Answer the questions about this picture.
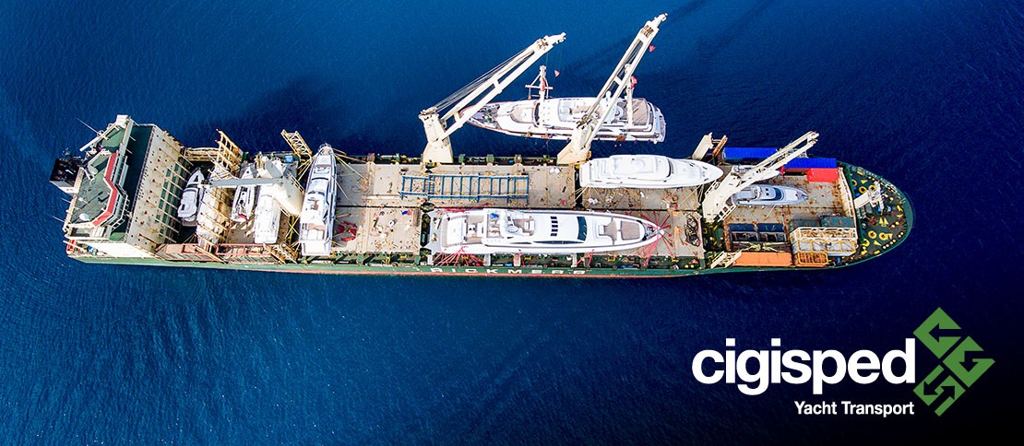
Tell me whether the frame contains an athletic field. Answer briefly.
No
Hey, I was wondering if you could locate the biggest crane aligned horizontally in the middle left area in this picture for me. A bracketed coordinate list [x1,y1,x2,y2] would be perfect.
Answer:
[199,172,309,214]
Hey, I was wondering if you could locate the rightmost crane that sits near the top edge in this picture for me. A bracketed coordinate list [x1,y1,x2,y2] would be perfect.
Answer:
[558,6,672,171]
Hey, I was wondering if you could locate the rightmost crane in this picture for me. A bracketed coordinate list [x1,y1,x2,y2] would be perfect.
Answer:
[859,178,893,208]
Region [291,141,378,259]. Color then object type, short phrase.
white boat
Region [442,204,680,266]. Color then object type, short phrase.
white boat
